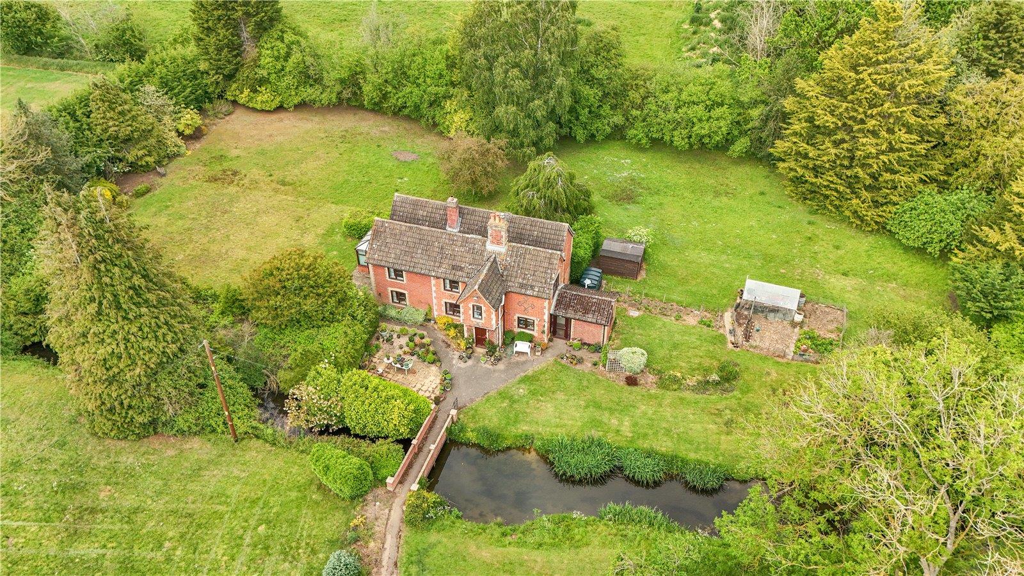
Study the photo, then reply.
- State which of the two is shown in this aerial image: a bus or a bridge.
bridge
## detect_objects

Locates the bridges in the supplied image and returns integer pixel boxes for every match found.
[385,402,457,500]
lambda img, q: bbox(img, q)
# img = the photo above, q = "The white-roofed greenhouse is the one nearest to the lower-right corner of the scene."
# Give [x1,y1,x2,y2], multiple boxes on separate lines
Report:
[742,277,804,321]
